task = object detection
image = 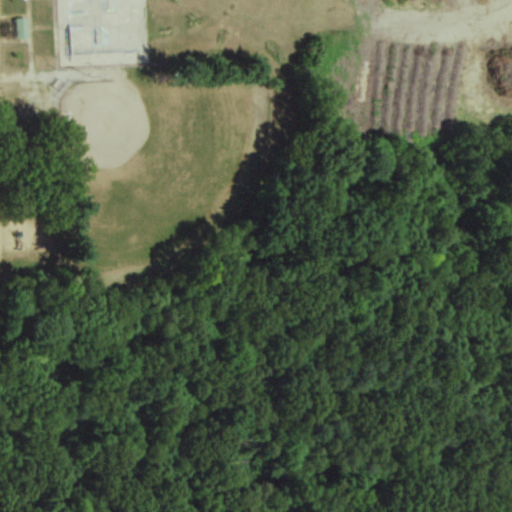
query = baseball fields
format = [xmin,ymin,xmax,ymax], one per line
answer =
[60,80,292,296]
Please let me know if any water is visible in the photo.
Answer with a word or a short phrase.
No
